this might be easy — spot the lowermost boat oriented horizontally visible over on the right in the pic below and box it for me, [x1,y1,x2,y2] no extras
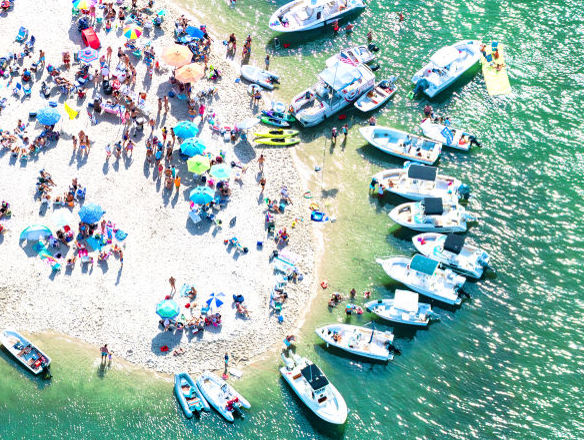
[317,324,405,364]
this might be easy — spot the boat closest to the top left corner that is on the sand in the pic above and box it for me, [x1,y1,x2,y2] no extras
[241,63,284,92]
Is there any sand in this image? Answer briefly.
Yes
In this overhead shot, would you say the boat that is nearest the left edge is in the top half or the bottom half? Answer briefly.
bottom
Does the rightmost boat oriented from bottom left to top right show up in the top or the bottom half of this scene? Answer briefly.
top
